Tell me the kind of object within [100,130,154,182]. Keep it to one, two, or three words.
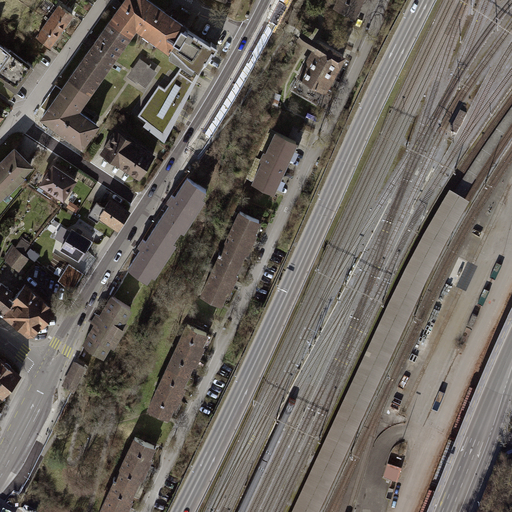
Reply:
house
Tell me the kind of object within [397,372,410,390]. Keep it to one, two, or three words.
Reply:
vehicle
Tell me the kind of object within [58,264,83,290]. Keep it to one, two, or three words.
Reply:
building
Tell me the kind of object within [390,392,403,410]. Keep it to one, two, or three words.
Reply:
vehicle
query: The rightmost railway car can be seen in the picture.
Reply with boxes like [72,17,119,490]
[451,386,474,434]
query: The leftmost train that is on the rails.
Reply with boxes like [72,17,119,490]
[238,384,298,512]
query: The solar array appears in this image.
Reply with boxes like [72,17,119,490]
[68,232,91,252]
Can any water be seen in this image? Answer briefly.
No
